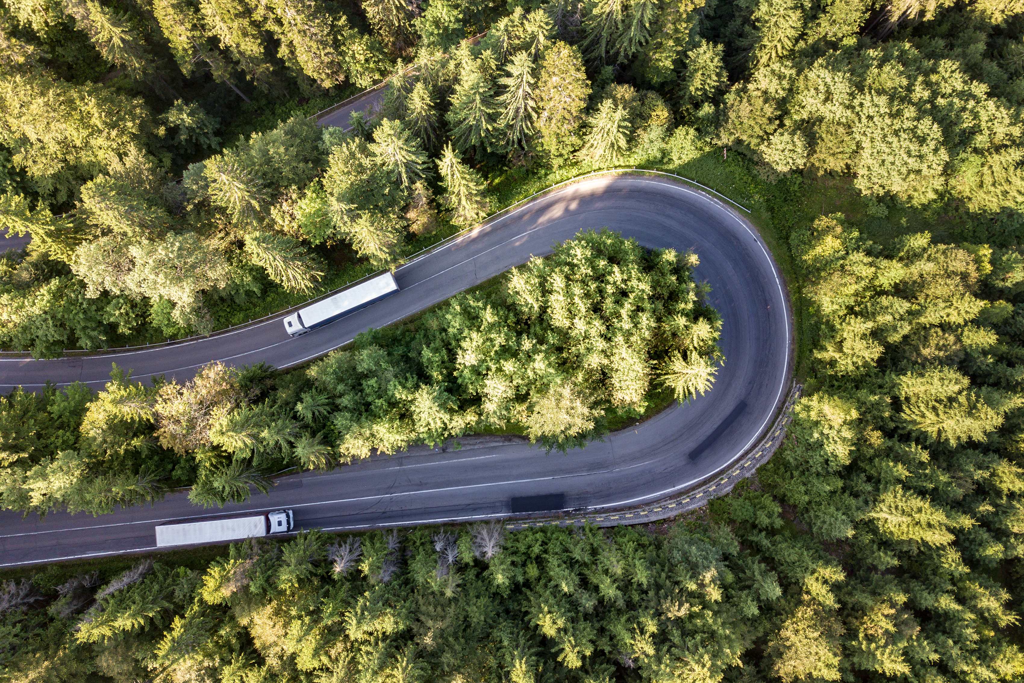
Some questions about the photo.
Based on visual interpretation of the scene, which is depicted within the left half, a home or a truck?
truck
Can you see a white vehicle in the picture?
Yes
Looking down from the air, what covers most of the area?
trees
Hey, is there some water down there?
No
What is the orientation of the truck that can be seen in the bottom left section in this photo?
from left to right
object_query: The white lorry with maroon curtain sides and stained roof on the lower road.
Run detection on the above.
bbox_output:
[153,507,304,548]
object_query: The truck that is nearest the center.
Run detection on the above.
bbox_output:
[281,272,402,341]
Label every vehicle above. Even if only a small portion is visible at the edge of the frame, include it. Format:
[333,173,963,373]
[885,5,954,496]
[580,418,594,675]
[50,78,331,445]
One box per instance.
[153,507,304,548]
[281,272,402,341]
